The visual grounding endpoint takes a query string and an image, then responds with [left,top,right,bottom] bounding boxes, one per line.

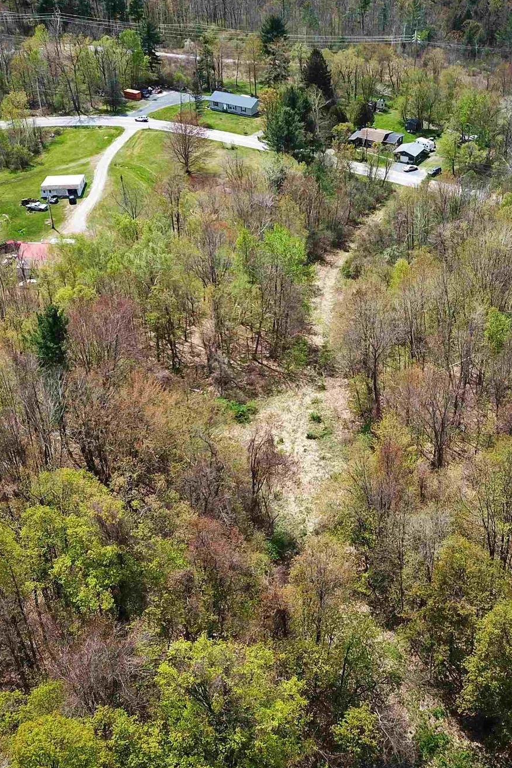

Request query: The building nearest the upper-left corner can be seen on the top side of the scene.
[37,173,86,196]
